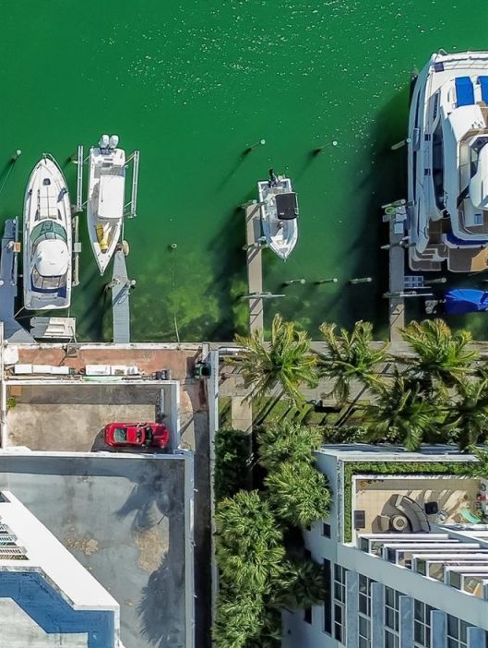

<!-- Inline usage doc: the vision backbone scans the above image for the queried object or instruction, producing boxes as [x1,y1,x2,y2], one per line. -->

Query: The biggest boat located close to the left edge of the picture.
[23,155,72,311]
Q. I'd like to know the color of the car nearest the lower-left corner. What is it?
red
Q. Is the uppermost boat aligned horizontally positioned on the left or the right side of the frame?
right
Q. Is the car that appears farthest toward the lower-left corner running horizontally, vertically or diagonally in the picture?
horizontally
